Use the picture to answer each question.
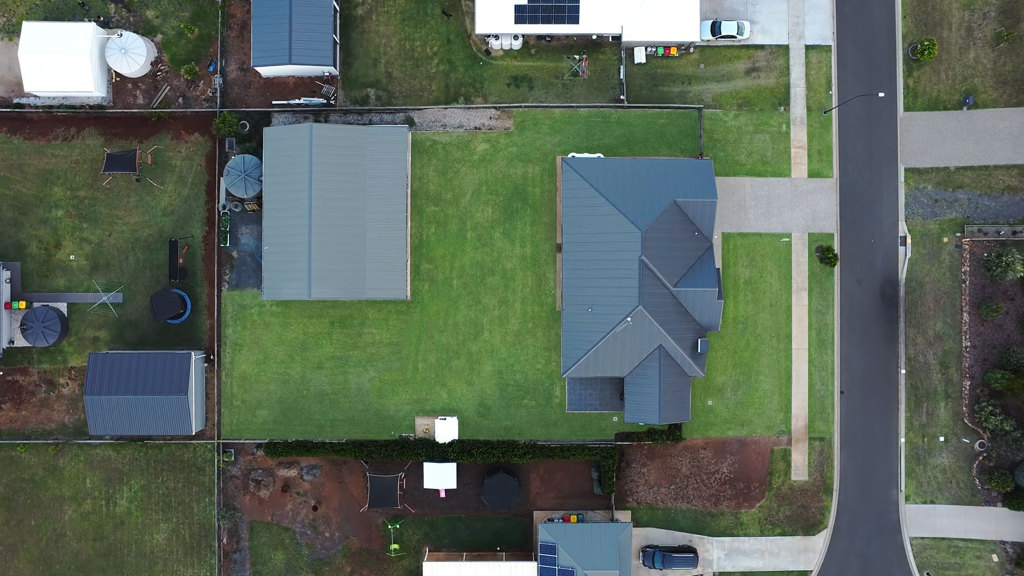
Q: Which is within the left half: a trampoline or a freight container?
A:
trampoline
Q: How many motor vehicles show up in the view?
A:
2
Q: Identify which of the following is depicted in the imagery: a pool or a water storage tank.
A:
water storage tank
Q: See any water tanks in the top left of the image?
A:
Yes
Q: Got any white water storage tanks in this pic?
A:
Yes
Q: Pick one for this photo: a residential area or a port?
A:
residential area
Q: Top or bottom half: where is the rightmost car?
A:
top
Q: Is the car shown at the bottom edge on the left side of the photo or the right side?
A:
right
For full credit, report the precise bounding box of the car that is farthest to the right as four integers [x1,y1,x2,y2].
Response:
[700,17,755,43]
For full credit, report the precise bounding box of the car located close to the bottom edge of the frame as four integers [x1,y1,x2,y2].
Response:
[641,543,698,570]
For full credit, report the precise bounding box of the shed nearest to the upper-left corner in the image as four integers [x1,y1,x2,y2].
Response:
[18,20,118,97]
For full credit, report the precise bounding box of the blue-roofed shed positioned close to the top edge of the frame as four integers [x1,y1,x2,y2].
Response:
[250,0,342,77]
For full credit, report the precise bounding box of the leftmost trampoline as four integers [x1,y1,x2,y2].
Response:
[151,289,191,324]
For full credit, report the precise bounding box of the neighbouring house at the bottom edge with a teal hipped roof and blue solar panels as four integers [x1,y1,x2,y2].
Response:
[537,520,634,576]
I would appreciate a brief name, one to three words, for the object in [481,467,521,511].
trampoline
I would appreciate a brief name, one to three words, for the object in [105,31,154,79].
water tank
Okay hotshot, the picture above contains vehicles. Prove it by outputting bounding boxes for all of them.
[641,543,698,570]
[700,17,755,43]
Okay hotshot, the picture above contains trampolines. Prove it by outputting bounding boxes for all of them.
[481,467,521,511]
[151,289,191,324]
